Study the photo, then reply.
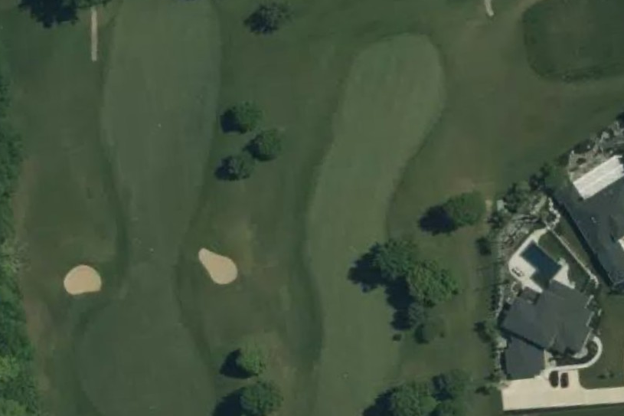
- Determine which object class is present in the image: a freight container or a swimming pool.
swimming pool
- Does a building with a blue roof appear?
No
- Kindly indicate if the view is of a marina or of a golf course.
golf course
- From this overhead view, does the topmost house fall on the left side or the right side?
right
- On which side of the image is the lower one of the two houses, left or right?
right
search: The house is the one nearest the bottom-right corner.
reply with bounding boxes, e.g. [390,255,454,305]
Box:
[502,281,595,383]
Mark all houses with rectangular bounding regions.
[562,155,624,286]
[502,281,595,383]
